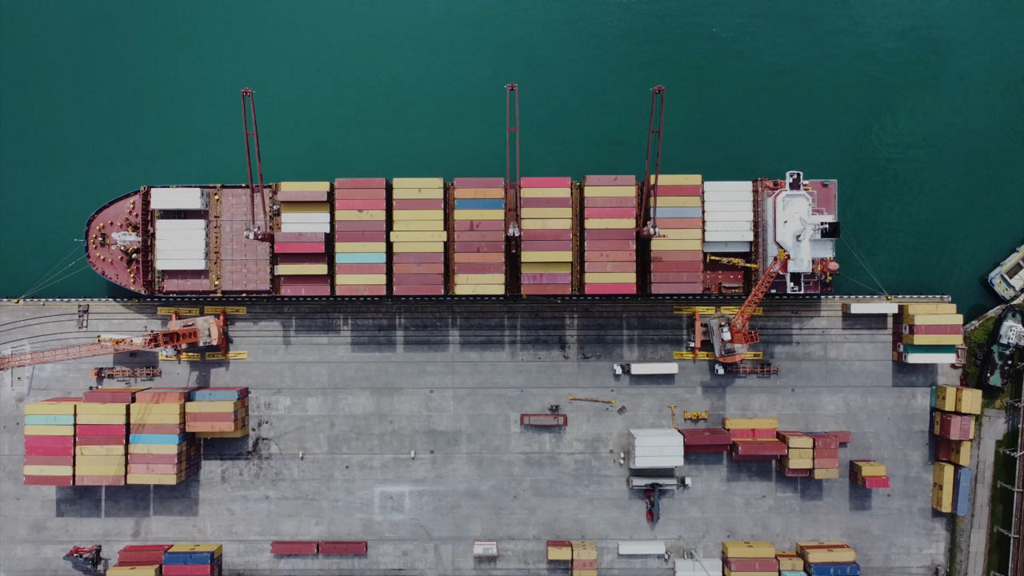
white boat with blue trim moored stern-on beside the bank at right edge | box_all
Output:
[988,243,1024,299]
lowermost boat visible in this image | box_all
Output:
[981,305,1024,389]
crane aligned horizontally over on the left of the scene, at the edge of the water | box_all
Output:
[0,307,249,369]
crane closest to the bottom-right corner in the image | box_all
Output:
[672,250,788,364]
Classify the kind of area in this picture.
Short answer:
port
